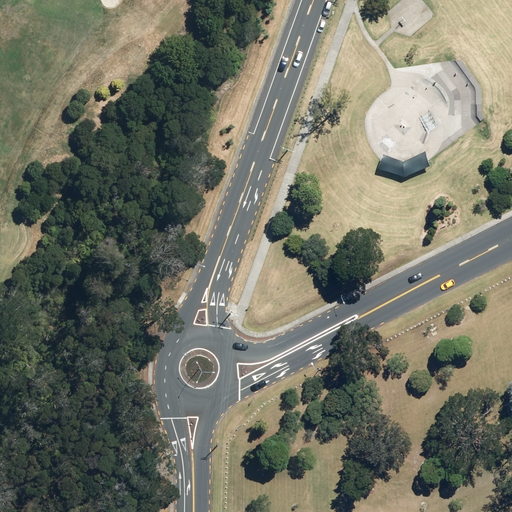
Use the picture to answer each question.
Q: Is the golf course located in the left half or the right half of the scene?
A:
left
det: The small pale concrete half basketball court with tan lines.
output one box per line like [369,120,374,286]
[388,0,433,36]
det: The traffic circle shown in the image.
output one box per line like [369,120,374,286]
[179,348,220,389]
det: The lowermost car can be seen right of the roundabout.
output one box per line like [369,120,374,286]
[251,379,266,391]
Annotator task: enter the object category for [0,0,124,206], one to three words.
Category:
golf course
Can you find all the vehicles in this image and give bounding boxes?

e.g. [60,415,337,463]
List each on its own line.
[322,0,332,17]
[232,343,248,350]
[317,18,326,34]
[293,50,304,67]
[251,379,266,391]
[408,272,422,284]
[278,54,288,71]
[440,279,456,290]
